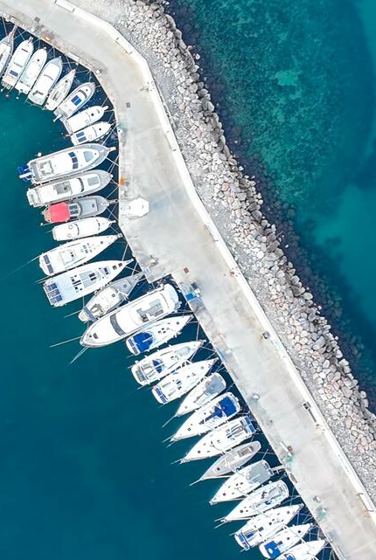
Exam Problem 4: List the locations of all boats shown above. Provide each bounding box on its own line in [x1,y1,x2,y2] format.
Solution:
[47,83,105,127]
[16,134,118,185]
[37,191,119,226]
[272,532,335,560]
[209,450,279,512]
[256,516,330,560]
[193,433,272,486]
[50,211,123,245]
[68,267,150,327]
[44,279,184,365]
[24,47,72,112]
[35,226,127,273]
[21,160,119,209]
[167,371,237,422]
[231,494,320,552]
[0,26,42,92]
[126,333,212,382]
[119,312,199,355]
[161,387,249,445]
[177,410,256,465]
[43,65,77,112]
[66,109,117,148]
[207,470,295,532]
[149,347,223,402]
[12,39,49,100]
[0,20,26,80]
[60,100,114,137]
[41,251,143,305]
